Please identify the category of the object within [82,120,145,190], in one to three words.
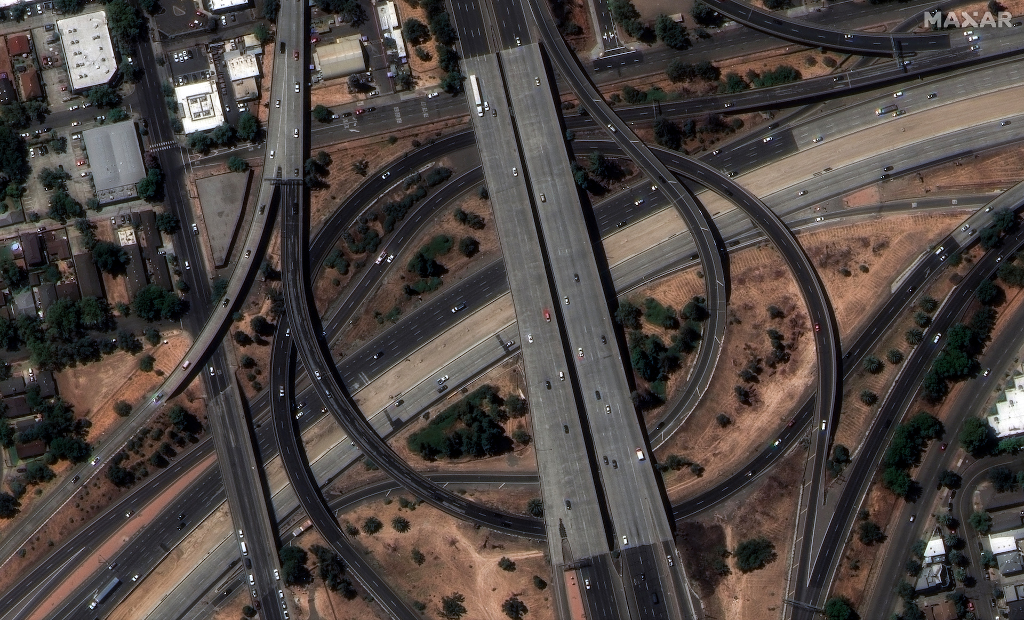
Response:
building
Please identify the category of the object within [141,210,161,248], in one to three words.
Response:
house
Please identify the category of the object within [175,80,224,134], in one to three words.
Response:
building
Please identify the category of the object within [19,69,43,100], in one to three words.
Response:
house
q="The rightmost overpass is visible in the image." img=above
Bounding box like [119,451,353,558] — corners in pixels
[949,181,1024,249]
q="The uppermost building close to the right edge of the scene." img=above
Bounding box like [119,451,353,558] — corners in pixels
[988,374,1024,437]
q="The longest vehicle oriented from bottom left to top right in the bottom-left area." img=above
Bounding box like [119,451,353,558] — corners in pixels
[89,576,120,606]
